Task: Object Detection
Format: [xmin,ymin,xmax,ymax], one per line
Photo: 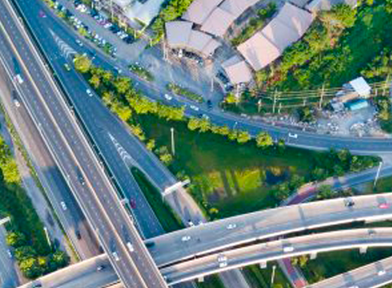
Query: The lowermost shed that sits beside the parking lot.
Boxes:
[221,58,254,90]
